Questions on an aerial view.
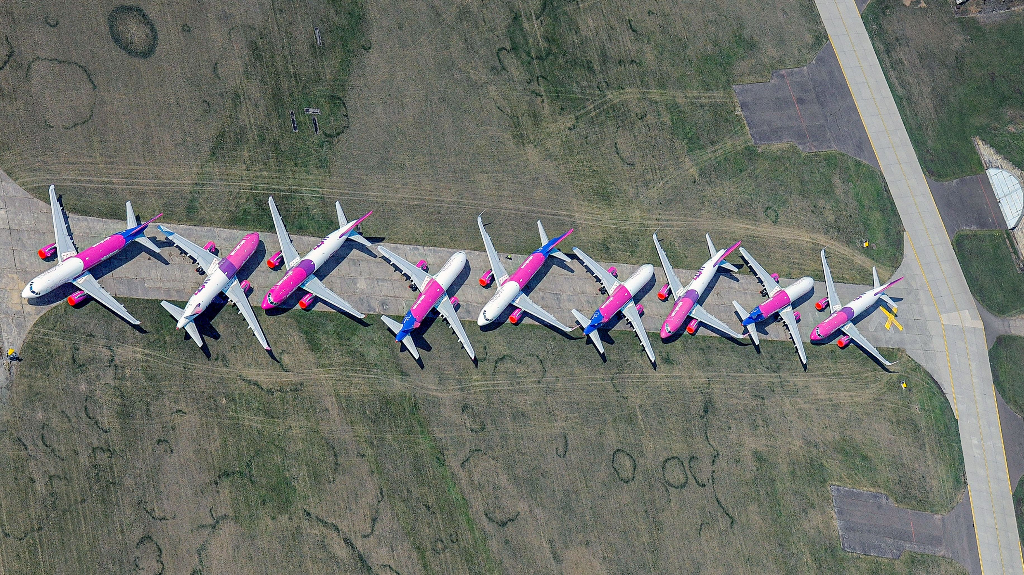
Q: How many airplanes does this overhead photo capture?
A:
9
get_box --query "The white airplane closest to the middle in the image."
[477,208,580,329]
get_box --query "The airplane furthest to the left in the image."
[21,184,163,325]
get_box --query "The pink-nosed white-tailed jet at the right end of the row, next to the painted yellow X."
[809,247,903,363]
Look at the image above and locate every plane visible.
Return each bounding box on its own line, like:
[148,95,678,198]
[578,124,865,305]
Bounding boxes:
[570,247,656,362]
[375,246,476,360]
[809,247,903,363]
[261,195,372,318]
[158,227,267,348]
[21,184,163,325]
[477,208,580,329]
[654,225,752,337]
[733,247,814,363]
